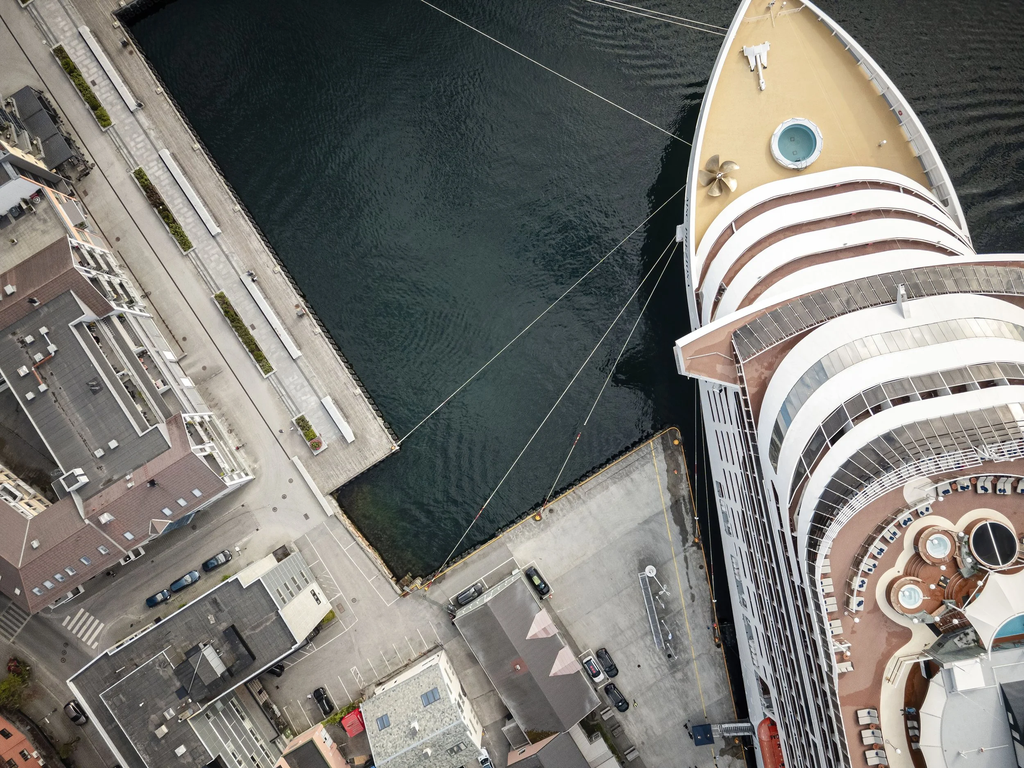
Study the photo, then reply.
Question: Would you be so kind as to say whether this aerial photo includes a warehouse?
Yes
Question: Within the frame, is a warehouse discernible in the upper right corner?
No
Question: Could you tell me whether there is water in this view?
Yes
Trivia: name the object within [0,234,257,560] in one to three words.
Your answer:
building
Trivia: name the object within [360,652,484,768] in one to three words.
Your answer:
house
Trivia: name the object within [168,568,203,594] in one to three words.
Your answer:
car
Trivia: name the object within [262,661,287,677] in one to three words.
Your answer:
car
